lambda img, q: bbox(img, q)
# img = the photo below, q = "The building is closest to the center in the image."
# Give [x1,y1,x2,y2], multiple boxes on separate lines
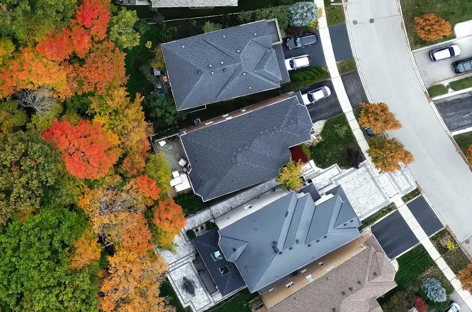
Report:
[178,90,313,202]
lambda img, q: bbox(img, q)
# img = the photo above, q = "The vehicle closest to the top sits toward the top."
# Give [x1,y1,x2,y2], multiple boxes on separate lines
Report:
[284,31,320,50]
